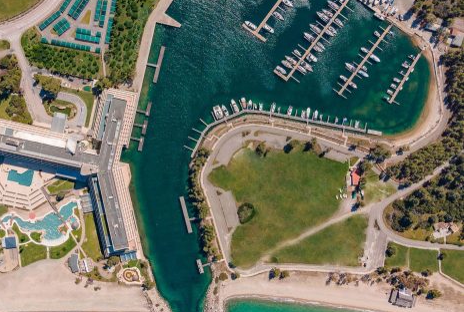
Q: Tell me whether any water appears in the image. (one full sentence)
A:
Yes, there is water in the image.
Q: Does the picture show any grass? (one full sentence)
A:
Yes, grass shows up in the scene.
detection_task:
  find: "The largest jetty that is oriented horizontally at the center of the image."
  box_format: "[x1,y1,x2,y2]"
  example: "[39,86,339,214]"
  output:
[184,100,368,158]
